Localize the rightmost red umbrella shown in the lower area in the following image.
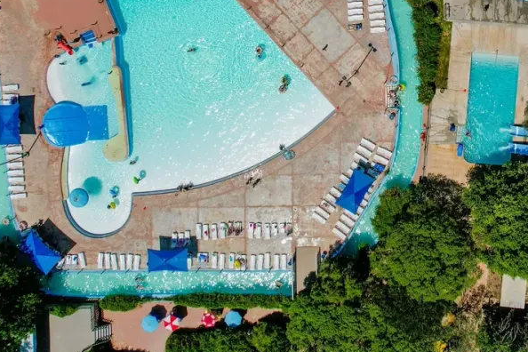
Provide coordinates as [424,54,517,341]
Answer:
[201,311,217,326]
